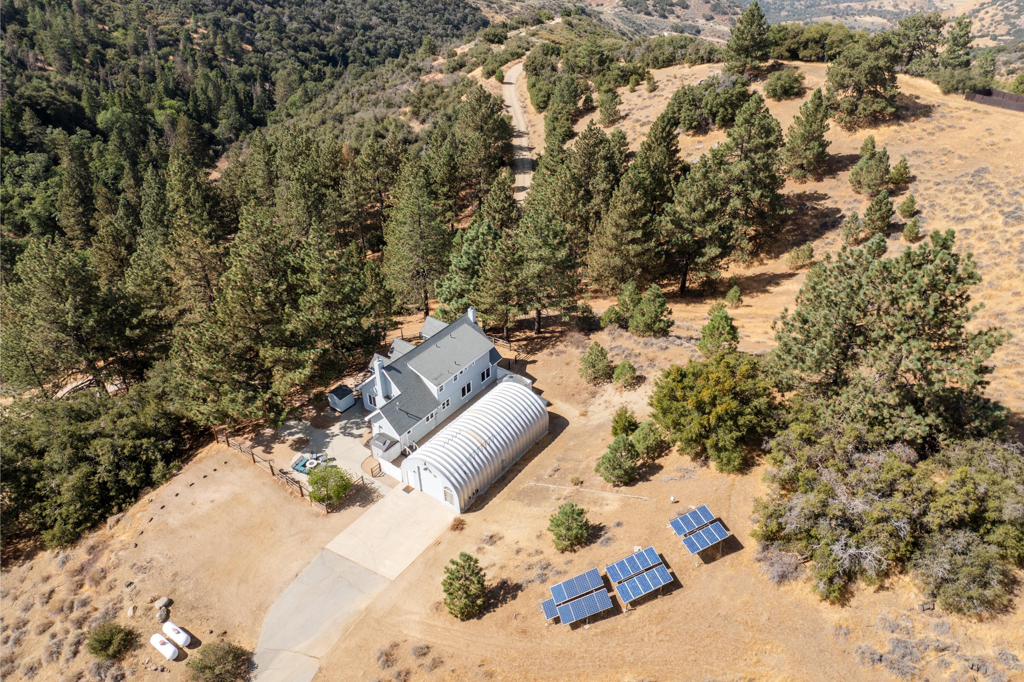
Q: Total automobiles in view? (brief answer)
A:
0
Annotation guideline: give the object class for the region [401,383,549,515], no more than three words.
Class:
hangar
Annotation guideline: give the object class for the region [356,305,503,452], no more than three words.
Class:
house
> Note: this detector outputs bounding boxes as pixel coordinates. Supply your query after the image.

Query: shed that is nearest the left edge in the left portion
[326,384,355,412]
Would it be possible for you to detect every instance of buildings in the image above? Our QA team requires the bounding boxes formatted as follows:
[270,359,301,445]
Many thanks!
[401,383,549,515]
[356,305,503,452]
[326,384,355,412]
